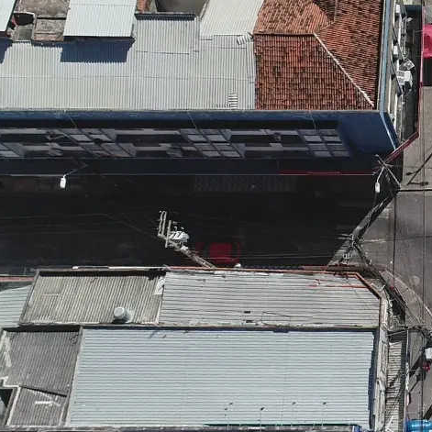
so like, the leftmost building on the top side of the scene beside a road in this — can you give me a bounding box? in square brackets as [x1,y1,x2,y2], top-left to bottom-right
[0,0,423,173]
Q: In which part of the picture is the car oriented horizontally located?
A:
center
